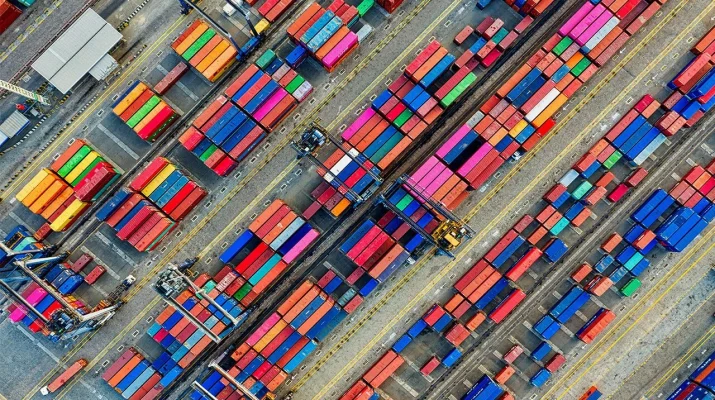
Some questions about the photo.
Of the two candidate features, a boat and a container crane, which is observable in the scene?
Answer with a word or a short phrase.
container crane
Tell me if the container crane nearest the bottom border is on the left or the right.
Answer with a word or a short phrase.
left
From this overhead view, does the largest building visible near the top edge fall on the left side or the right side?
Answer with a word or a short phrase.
left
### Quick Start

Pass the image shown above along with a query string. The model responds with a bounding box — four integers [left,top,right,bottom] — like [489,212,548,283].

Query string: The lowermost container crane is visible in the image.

[189,339,260,400]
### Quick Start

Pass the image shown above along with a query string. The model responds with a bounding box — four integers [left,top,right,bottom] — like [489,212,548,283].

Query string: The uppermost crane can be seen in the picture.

[181,0,270,64]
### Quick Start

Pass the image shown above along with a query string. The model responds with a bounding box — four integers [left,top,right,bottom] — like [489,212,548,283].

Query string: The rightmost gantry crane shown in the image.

[375,174,475,258]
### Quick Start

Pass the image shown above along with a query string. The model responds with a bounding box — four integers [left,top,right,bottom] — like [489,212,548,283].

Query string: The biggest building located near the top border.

[32,6,126,98]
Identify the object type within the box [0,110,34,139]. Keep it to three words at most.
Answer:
shed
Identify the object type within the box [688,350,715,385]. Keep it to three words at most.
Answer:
shipping container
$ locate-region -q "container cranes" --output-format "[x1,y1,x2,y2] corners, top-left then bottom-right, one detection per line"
[0,251,124,345]
[375,174,475,258]
[189,339,260,400]
[145,252,256,344]
[289,119,385,205]
[181,0,270,64]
